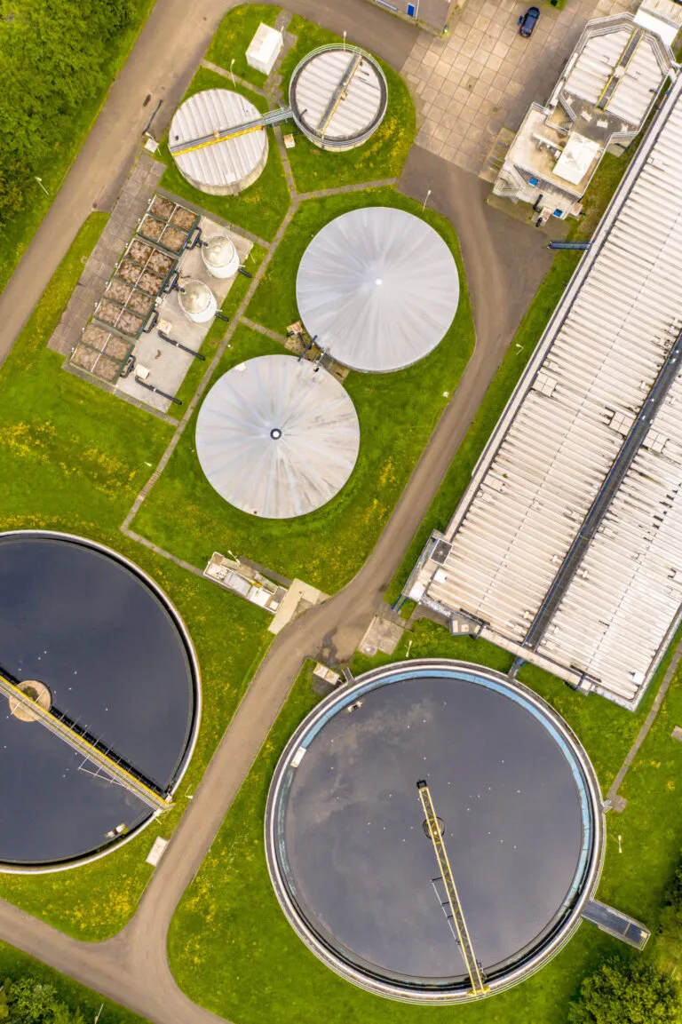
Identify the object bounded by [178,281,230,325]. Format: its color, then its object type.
white storage tank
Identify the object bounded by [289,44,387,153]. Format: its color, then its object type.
white storage tank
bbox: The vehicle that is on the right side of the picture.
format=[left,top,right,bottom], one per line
[517,6,539,40]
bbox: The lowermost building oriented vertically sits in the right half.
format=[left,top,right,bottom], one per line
[401,58,682,714]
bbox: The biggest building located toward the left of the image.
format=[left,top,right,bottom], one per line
[246,23,285,77]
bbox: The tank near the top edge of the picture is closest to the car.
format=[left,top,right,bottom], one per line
[547,12,674,151]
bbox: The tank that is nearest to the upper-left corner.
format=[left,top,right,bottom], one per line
[166,88,268,195]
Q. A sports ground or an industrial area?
industrial area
